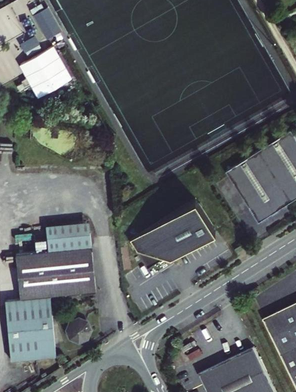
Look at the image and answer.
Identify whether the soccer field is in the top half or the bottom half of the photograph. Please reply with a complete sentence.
The soccer field sits in the top half of the picture.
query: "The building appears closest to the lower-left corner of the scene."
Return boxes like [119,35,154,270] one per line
[6,298,58,362]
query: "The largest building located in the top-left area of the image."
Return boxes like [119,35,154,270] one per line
[20,46,75,98]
